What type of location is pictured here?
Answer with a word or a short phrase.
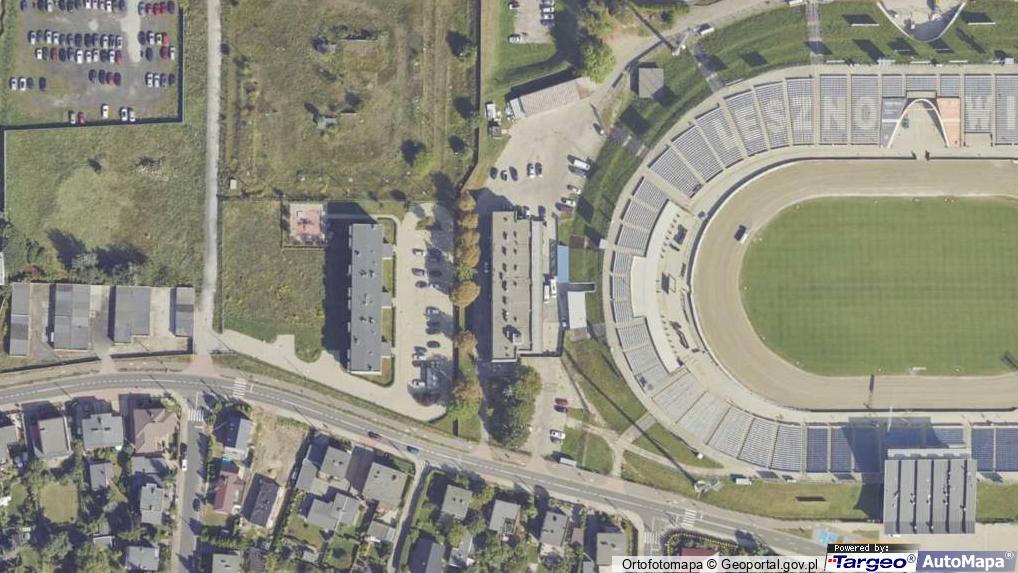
sports ground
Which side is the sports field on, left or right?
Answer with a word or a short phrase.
right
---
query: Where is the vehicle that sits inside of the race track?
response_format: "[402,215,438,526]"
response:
[738,230,751,246]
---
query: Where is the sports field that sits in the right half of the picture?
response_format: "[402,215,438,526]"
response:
[740,196,1018,376]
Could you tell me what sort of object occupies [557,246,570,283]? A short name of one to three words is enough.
building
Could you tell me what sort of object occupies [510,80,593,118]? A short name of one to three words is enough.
shed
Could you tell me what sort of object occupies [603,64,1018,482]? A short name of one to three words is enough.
stadium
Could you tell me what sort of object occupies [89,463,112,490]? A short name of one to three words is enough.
house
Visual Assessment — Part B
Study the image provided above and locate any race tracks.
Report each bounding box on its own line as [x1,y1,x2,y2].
[693,158,1018,412]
